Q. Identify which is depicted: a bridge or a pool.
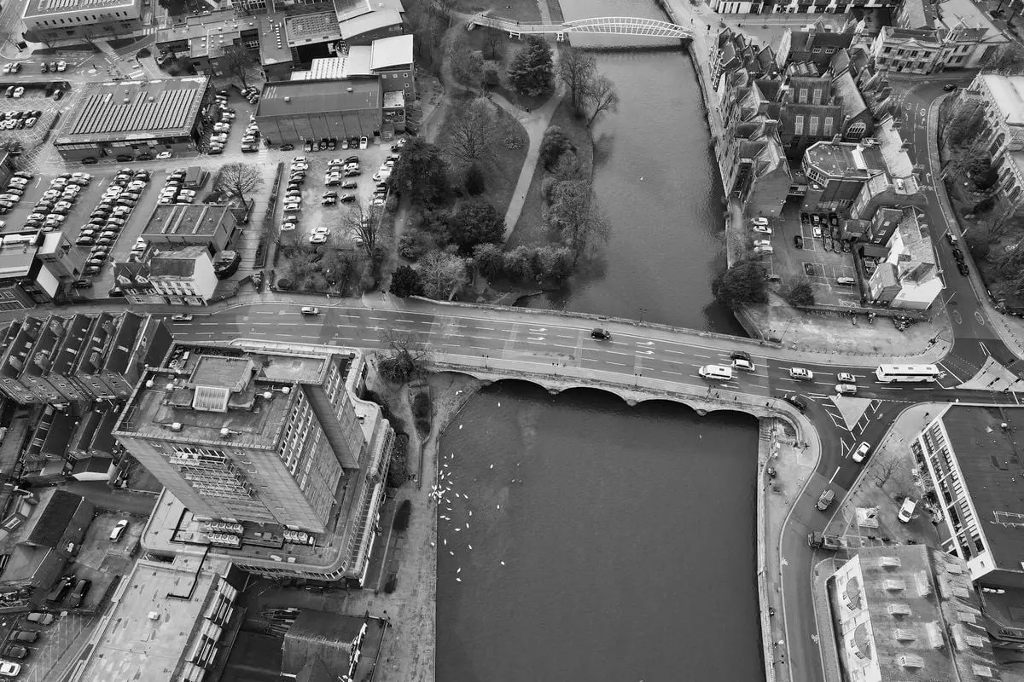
bridge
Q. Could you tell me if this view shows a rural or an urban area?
urban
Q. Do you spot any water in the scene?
Yes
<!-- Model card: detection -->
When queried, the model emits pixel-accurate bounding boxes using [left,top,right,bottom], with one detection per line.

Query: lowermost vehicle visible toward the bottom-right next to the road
[809,529,855,551]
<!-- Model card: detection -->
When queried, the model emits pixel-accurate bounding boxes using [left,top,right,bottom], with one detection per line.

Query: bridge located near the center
[410,291,772,420]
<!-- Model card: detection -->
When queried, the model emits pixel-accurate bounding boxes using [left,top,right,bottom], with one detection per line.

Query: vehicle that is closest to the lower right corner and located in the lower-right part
[898,491,920,523]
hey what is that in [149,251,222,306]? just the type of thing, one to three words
house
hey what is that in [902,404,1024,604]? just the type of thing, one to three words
building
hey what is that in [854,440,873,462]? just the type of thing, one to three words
car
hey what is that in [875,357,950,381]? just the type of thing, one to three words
bus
